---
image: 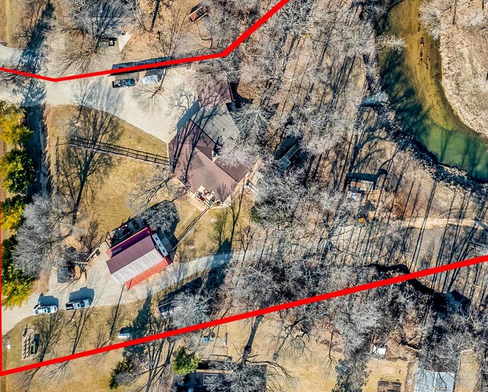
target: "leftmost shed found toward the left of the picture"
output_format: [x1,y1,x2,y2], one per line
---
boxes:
[55,264,74,285]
